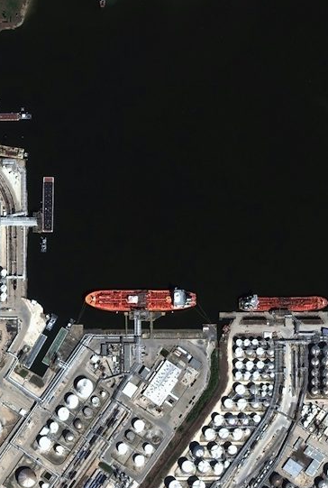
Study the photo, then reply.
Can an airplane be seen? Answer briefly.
No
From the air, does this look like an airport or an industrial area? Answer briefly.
industrial area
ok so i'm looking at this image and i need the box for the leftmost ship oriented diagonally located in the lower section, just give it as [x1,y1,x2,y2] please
[24,335,47,369]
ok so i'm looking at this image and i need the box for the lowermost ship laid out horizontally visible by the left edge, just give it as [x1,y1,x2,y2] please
[0,147,25,159]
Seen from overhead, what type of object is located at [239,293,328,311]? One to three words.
ship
